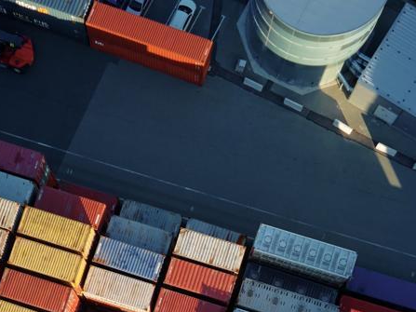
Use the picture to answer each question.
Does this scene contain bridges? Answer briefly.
No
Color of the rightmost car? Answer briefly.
blue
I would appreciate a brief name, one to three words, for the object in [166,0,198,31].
car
